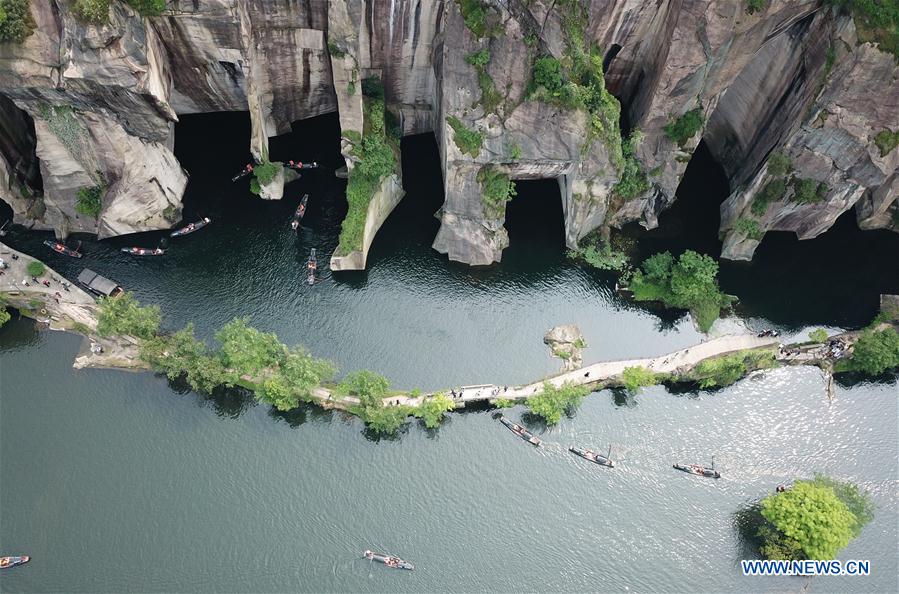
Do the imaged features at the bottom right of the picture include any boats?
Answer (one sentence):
Yes, a boat shows up at the bottom right of the picture.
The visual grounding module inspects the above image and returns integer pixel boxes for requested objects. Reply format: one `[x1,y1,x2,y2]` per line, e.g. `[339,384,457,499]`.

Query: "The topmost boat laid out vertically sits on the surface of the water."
[292,193,306,233]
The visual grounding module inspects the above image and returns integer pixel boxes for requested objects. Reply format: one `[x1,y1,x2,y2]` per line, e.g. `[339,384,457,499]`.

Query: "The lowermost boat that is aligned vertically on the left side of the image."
[308,247,322,285]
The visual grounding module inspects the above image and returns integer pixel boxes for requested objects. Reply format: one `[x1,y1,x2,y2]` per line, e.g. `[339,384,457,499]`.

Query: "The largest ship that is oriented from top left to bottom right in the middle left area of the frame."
[69,259,126,302]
